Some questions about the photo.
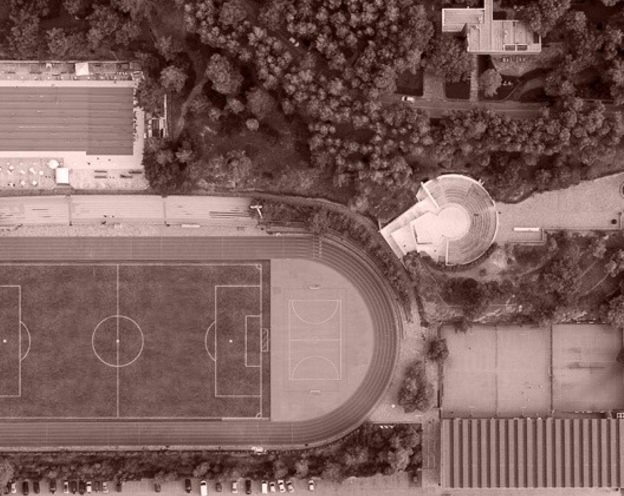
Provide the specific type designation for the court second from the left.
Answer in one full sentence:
Specifically, the court second from the left is a tennis court.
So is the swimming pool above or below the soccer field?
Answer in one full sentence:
As seen from overhead, the swimming pool falls above the soccer field in the picture.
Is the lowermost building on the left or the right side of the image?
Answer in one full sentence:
It is on the right.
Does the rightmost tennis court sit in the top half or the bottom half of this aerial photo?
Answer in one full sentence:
The rightmost tennis court is in the bottom half of the image.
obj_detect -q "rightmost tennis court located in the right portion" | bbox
[553,325,624,413]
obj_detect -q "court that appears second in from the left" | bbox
[443,325,497,417]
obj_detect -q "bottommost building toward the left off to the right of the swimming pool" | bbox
[149,118,168,140]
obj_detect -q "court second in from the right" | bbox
[497,325,551,417]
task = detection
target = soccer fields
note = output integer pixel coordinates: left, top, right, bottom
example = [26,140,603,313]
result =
[0,259,270,423]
